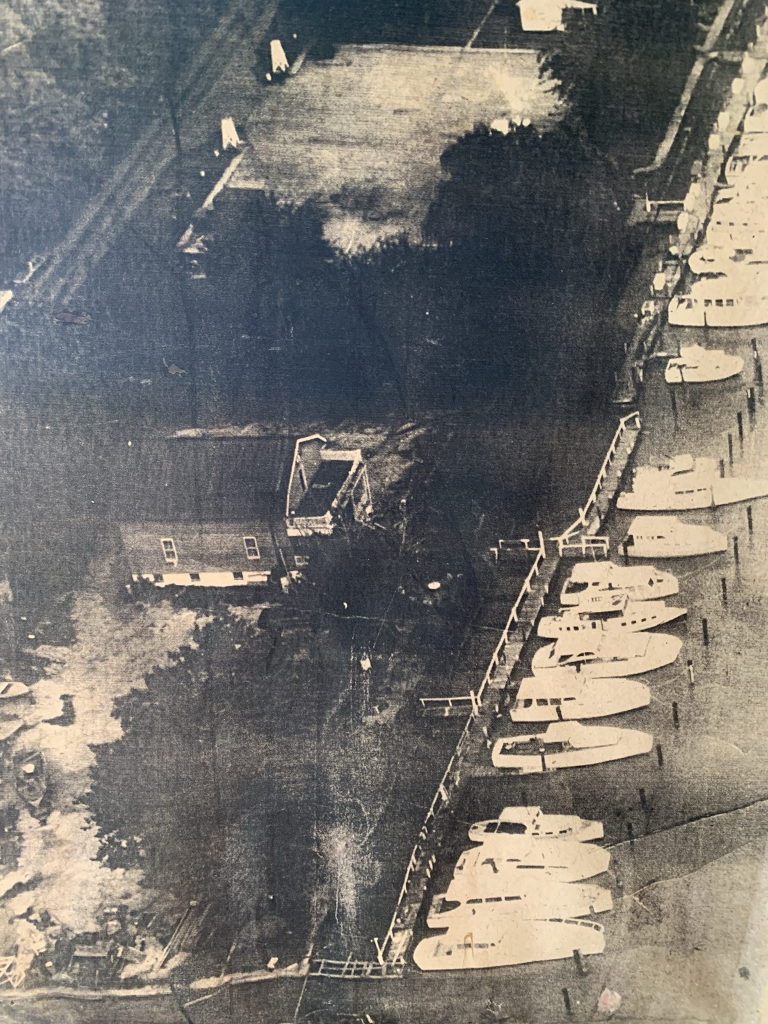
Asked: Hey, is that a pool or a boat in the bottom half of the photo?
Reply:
boat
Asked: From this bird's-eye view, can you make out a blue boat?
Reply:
No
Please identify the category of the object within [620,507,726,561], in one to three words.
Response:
boat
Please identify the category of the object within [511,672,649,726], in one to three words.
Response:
boat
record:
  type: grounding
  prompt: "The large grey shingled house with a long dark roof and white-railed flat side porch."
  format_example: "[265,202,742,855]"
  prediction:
[112,432,382,583]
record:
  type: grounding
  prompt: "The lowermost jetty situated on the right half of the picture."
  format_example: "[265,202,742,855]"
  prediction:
[384,556,564,977]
